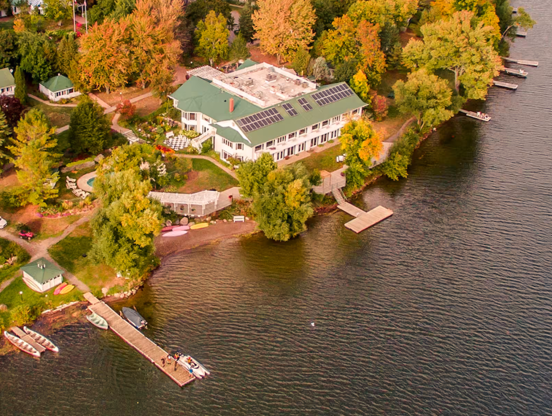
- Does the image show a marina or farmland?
marina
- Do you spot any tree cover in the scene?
Yes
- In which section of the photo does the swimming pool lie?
left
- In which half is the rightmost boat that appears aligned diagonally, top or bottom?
bottom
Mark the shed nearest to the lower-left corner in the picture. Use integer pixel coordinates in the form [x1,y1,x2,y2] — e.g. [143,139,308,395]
[18,254,64,292]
